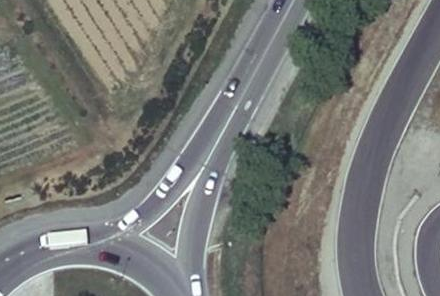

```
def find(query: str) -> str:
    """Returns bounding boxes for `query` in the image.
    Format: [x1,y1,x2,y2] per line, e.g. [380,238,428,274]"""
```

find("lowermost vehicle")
[190,275,202,296]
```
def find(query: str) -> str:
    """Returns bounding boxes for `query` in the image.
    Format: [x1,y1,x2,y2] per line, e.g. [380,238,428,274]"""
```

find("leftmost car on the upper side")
[226,78,240,98]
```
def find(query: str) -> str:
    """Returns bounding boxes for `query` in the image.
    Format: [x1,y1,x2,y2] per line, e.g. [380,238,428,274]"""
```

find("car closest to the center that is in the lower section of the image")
[205,172,218,196]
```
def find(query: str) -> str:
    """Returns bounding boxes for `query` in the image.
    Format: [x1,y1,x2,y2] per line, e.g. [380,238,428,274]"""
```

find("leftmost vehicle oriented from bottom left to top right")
[118,211,139,231]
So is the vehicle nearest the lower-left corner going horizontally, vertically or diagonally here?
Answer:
horizontally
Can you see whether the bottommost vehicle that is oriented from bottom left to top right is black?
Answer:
No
